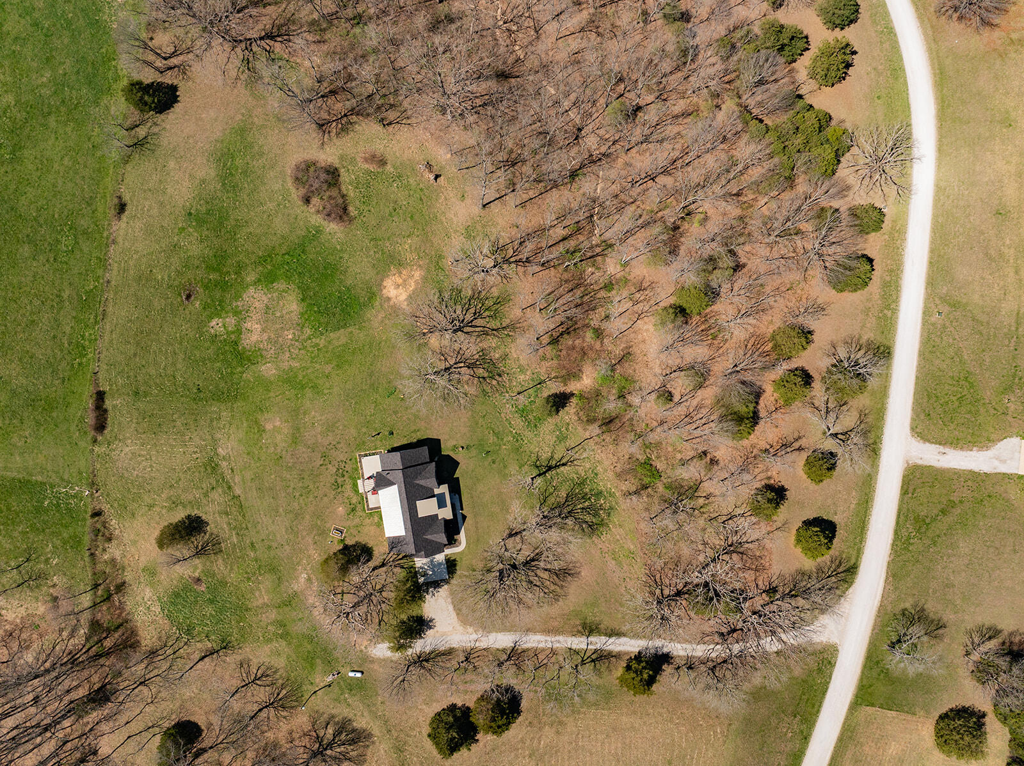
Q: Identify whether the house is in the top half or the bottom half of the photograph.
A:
bottom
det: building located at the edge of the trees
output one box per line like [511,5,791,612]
[375,447,453,558]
